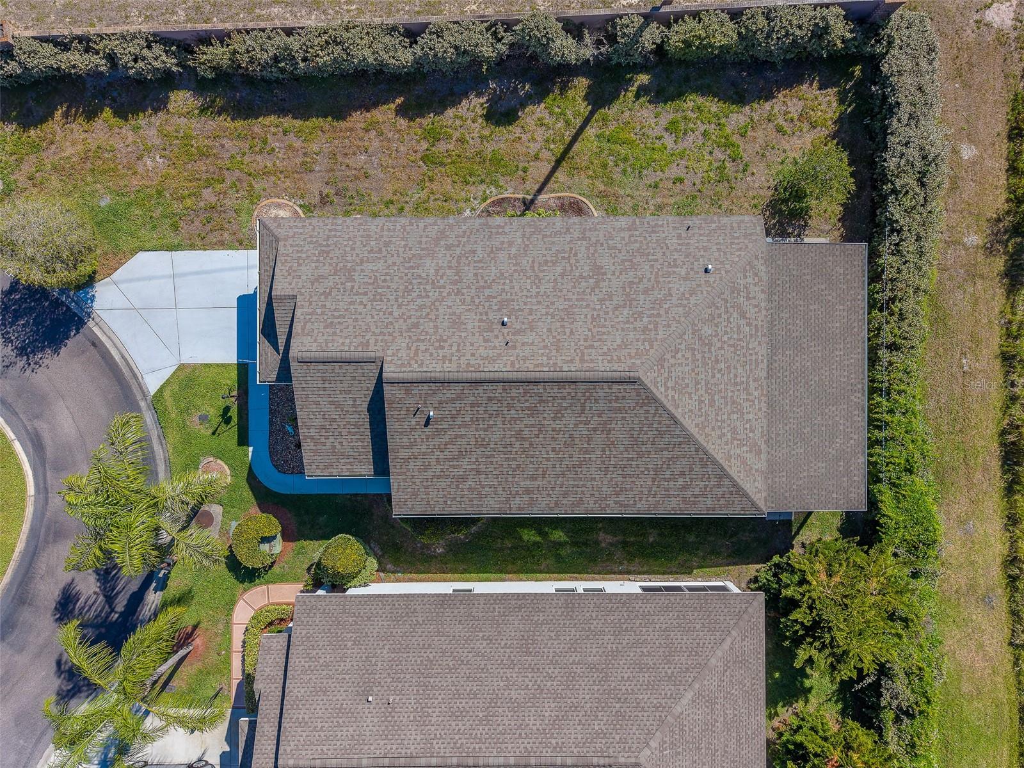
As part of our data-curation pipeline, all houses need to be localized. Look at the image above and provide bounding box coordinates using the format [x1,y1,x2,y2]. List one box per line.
[236,582,767,768]
[257,214,868,517]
